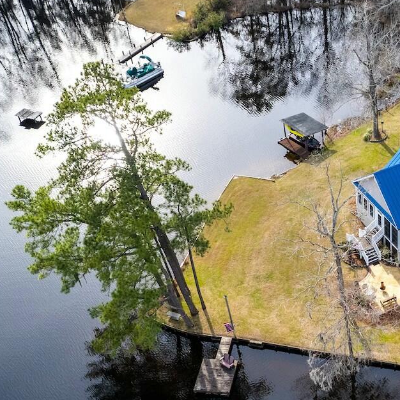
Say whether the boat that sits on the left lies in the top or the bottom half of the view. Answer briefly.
top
